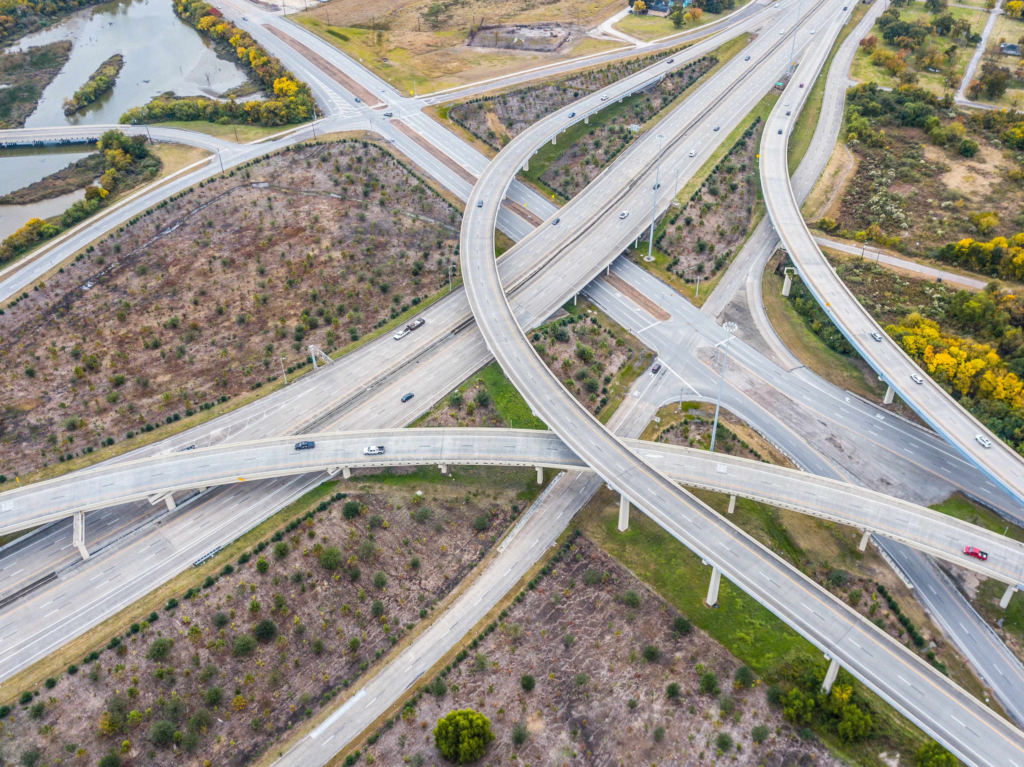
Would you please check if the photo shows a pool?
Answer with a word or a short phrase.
No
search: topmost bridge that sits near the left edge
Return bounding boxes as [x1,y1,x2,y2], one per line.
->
[0,124,136,147]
